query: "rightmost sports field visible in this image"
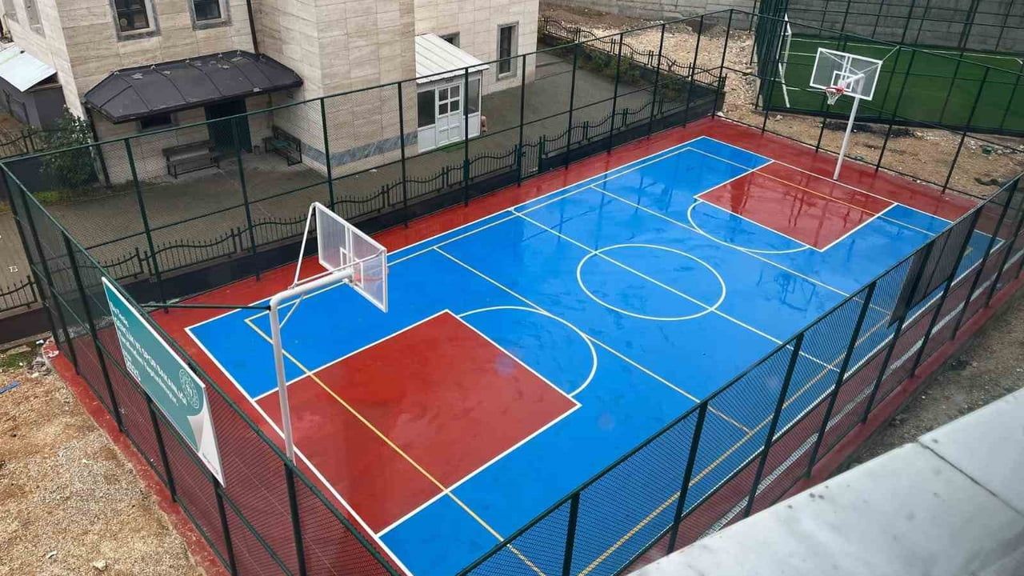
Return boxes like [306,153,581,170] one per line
[754,32,1024,123]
